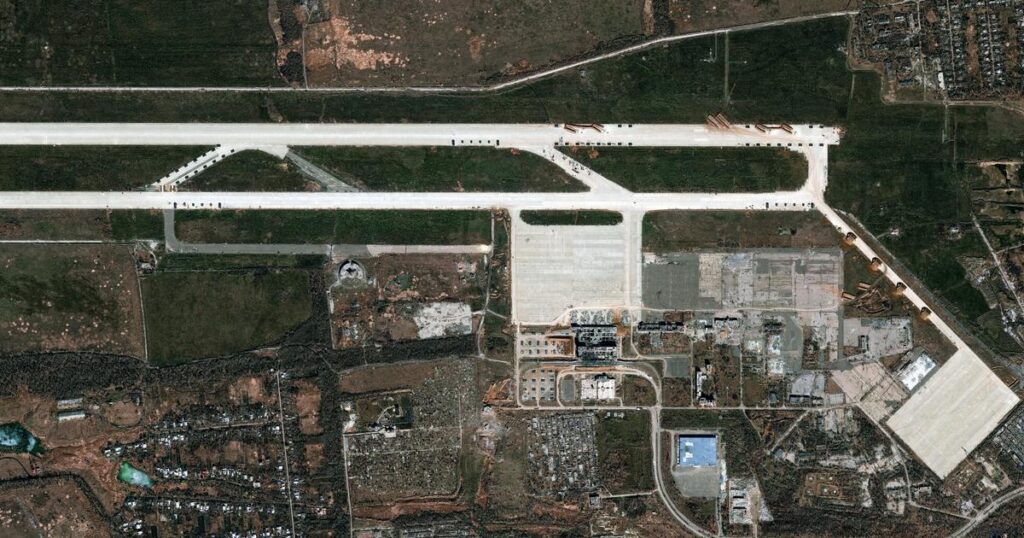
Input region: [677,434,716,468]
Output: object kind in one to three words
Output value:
building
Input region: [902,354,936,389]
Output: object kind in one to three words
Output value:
hangar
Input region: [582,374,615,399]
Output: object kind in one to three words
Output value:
building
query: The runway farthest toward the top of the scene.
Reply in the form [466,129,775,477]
[0,123,840,147]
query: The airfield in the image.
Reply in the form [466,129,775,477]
[0,123,1019,479]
